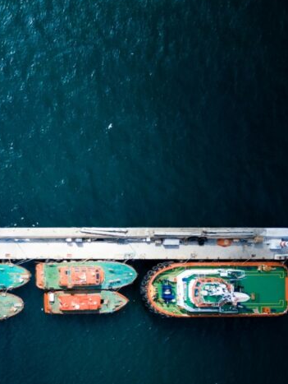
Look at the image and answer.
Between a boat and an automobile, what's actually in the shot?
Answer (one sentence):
Visible in the photo is a boat.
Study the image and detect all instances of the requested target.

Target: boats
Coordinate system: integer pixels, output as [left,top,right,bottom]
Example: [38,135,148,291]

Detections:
[140,257,288,320]
[36,261,139,291]
[0,263,32,292]
[43,290,130,314]
[0,294,24,320]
